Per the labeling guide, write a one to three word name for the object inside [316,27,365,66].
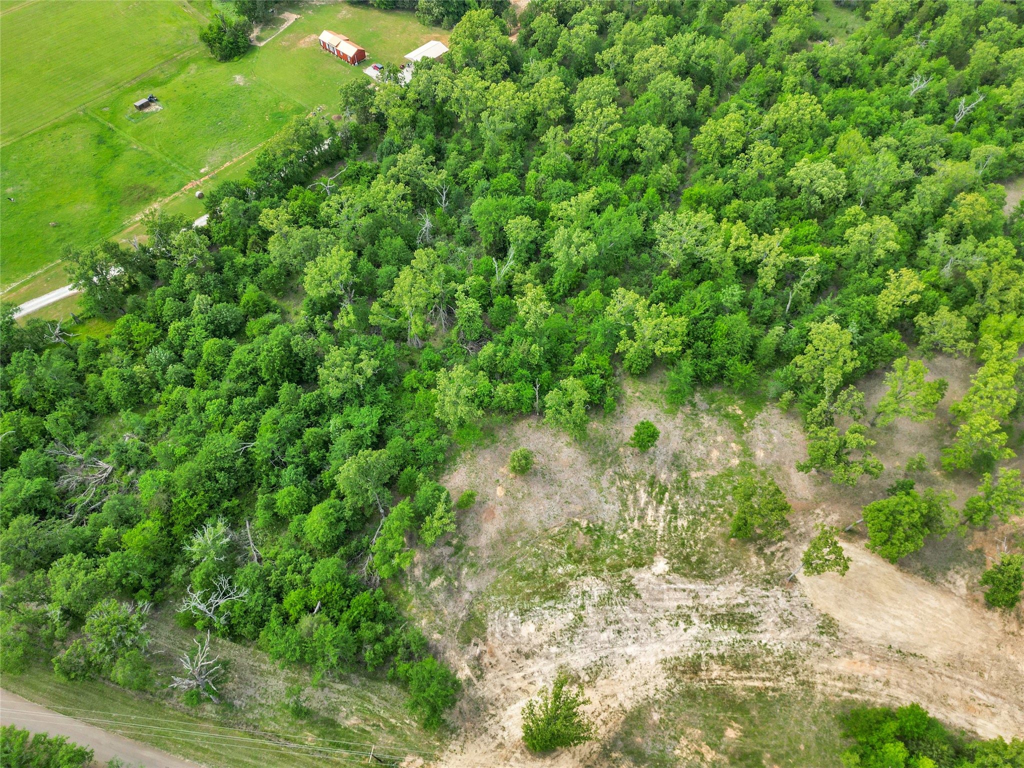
building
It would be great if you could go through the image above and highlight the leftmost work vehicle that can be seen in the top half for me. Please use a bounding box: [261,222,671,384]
[144,90,165,103]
